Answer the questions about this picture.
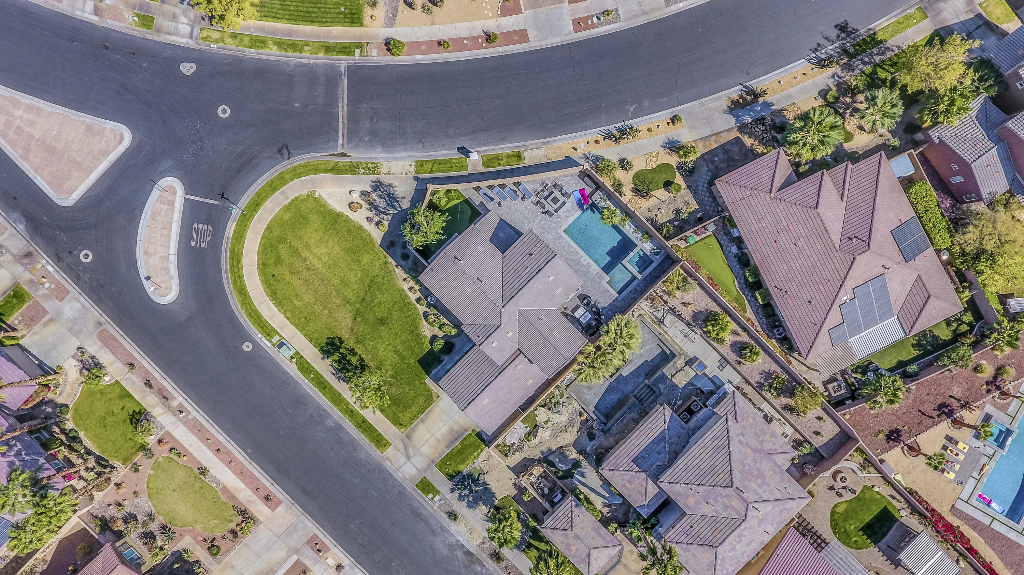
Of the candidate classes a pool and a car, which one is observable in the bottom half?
pool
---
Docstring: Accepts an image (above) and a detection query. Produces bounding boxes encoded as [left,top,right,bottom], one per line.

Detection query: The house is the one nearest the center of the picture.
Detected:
[419,210,589,436]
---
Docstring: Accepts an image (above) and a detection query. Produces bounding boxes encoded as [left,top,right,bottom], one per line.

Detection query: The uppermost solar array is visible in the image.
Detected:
[892,216,933,263]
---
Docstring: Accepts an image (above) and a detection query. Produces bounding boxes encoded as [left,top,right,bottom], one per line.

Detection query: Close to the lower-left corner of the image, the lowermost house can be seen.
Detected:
[78,535,157,575]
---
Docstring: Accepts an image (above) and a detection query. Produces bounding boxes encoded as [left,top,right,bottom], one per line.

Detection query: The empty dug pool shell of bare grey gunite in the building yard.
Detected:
[590,348,682,431]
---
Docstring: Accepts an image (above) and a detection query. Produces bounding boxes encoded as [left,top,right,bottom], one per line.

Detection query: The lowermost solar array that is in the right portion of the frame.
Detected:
[829,274,895,347]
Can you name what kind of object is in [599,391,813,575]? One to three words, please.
house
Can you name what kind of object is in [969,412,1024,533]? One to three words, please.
swimming pool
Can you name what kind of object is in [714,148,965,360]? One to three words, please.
house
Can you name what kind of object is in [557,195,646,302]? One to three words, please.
swimming pool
